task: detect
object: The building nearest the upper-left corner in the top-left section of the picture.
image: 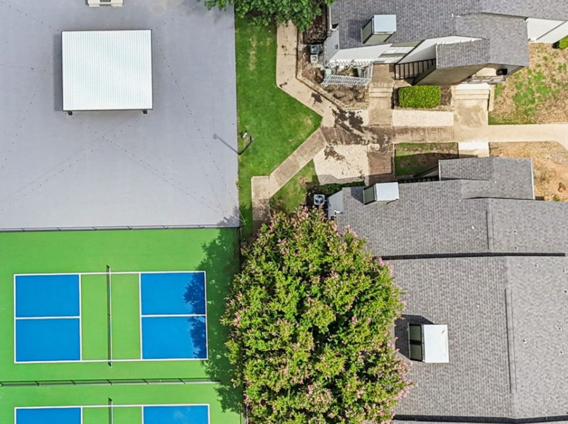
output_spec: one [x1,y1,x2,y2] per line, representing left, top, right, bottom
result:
[62,28,153,117]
